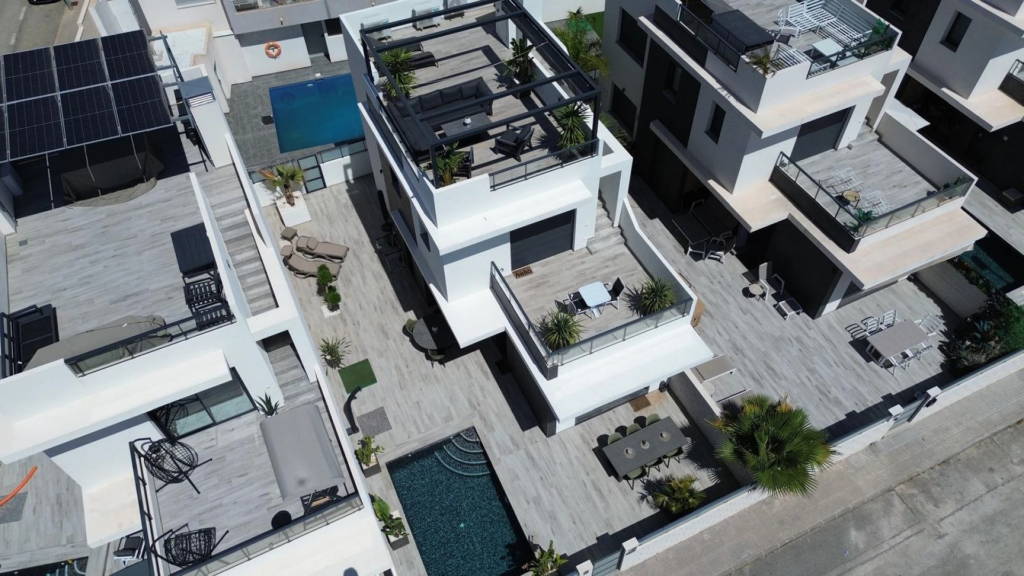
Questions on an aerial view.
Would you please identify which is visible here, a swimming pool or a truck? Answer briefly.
swimming pool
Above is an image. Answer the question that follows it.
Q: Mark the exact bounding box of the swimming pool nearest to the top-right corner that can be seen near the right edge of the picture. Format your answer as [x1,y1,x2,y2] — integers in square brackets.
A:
[957,204,1024,297]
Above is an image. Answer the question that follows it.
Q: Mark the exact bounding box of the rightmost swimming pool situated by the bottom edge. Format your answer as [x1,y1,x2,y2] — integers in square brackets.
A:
[386,427,536,576]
